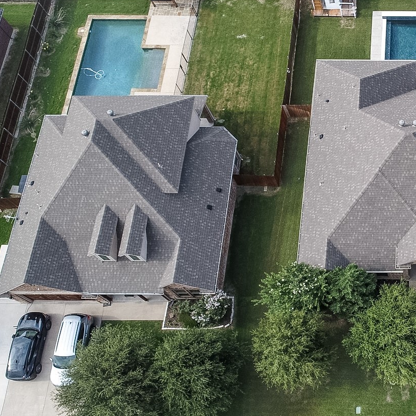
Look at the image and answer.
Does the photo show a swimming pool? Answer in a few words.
Yes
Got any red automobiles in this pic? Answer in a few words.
No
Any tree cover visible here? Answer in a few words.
Yes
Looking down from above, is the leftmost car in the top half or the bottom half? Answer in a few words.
bottom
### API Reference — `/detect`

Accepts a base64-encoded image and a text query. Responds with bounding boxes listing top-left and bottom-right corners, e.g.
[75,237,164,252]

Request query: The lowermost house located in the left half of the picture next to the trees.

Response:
[0,94,242,308]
